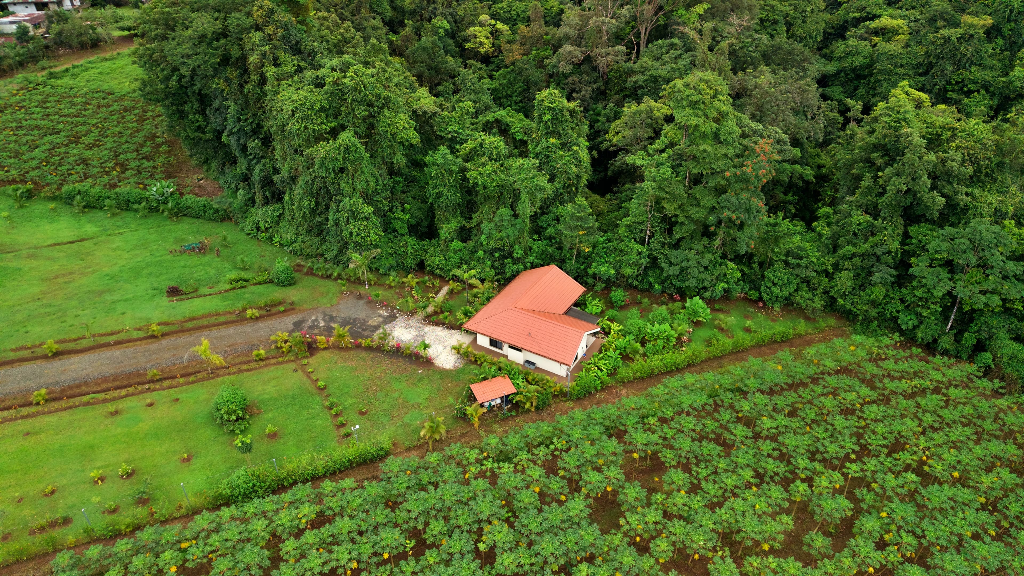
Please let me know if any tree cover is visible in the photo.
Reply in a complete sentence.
Yes, some tree cover is visible.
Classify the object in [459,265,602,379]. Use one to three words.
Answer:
house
